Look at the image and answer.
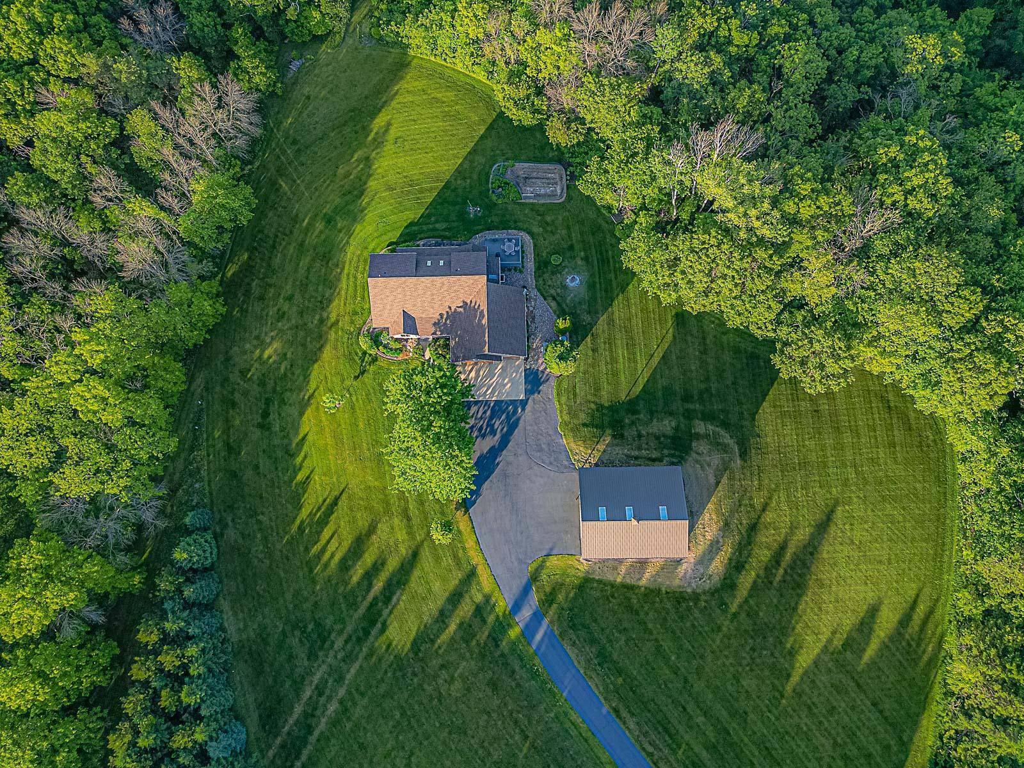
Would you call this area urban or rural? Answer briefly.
rural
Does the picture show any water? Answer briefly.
No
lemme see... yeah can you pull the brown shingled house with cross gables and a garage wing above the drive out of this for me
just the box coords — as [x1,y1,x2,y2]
[366,240,527,365]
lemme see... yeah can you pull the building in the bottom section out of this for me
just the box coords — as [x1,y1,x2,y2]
[574,466,690,562]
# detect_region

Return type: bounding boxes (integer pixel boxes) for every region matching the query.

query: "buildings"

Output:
[366,240,527,365]
[574,466,690,562]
